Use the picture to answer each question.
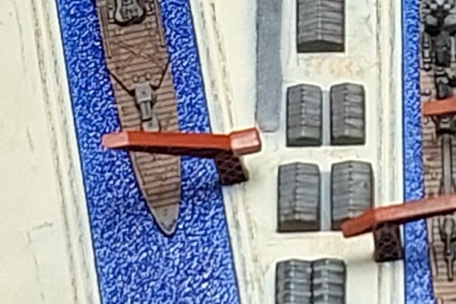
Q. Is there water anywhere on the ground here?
Yes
